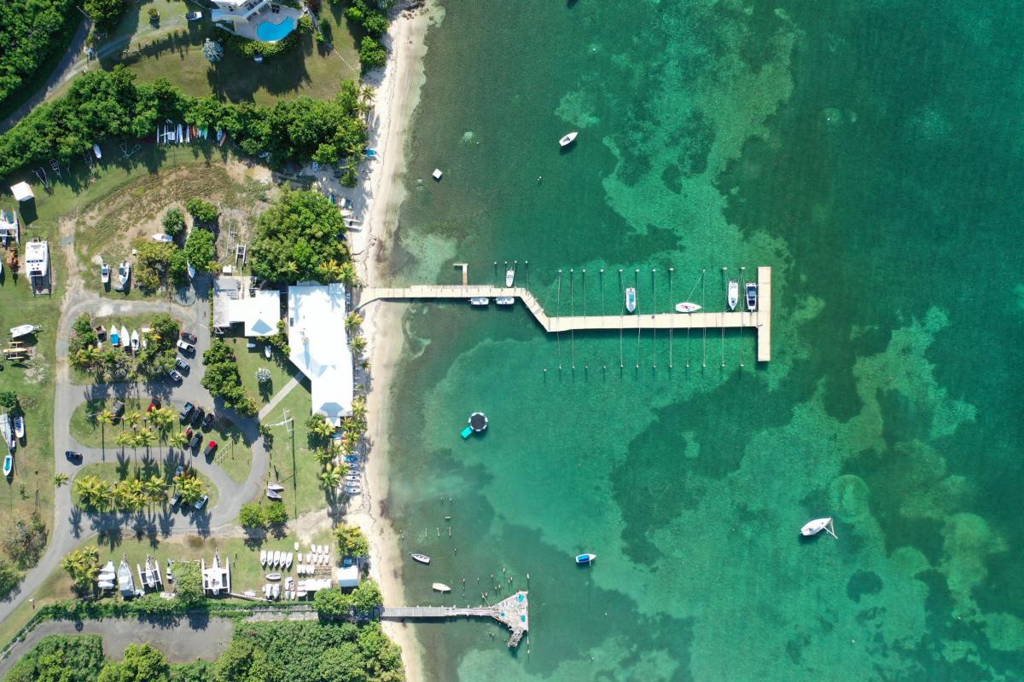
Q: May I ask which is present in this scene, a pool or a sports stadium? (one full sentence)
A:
The image shows a pool.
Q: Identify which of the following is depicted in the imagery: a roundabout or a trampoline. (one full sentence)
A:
I can see a trampoline in this picture.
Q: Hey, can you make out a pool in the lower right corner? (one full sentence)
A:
No, no pool is visible in the lower right corner.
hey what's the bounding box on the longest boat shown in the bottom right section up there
[799,519,832,538]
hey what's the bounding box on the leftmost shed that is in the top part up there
[11,182,40,202]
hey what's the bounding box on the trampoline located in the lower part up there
[461,412,488,437]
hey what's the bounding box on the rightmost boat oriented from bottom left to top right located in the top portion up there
[560,133,577,146]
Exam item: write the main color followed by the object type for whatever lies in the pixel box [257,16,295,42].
blue swimming pool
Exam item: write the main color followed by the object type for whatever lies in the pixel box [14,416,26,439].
white boat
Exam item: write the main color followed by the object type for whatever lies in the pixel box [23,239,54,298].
white boat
